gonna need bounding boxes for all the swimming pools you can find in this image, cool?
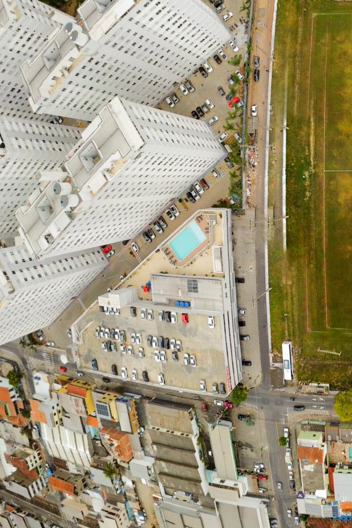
[163,217,212,267]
